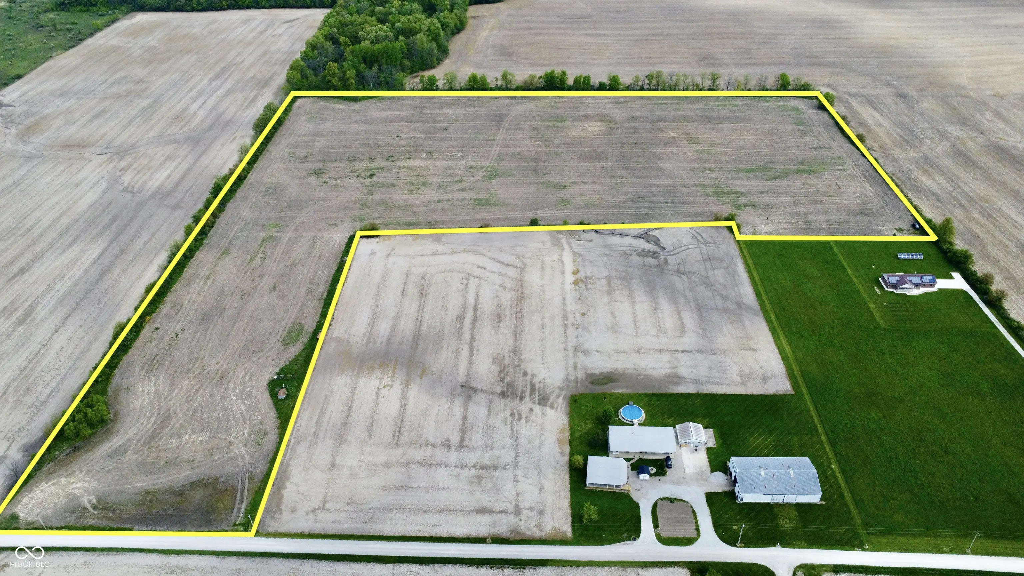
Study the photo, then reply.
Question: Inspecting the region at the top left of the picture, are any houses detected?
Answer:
No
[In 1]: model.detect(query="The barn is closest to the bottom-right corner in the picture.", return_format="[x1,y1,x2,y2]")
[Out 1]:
[729,455,823,503]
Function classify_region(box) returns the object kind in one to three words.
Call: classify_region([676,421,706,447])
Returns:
building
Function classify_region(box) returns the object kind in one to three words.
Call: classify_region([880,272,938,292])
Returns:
house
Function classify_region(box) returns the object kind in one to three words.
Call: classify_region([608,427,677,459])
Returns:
house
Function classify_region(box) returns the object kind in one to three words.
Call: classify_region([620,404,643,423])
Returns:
swimming pool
